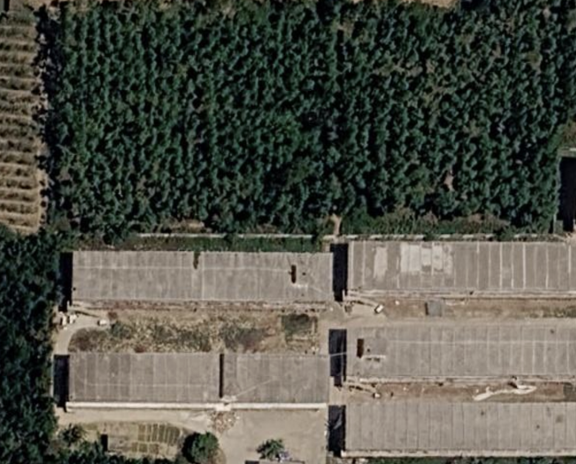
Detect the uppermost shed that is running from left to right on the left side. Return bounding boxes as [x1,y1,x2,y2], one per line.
[70,252,333,313]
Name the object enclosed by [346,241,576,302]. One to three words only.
shed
